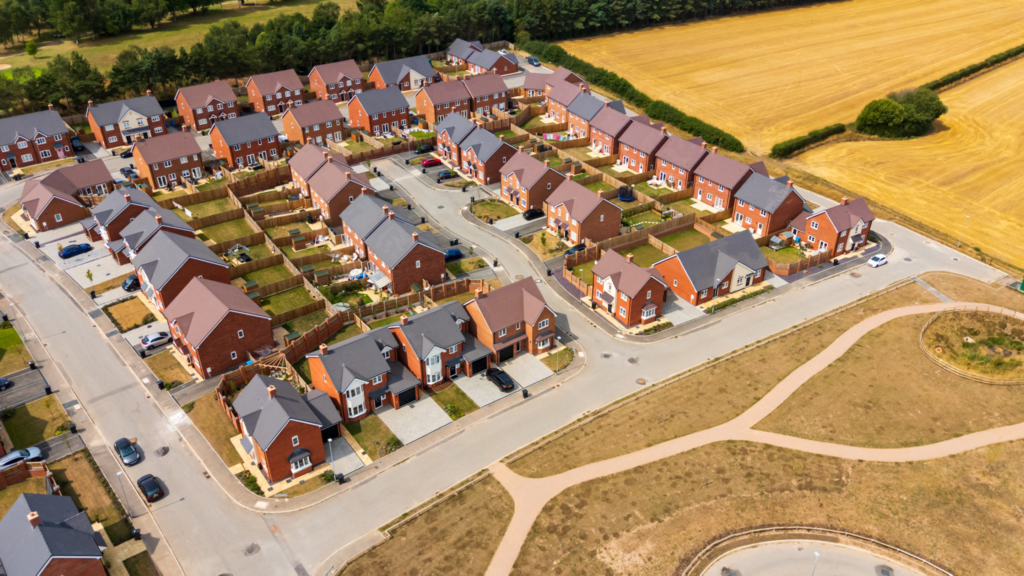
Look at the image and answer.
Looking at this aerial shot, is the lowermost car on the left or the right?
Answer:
left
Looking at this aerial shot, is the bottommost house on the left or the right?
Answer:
left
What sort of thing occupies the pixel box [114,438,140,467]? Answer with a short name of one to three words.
car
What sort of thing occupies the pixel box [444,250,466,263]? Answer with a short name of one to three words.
vehicle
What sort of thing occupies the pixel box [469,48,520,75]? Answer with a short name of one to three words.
house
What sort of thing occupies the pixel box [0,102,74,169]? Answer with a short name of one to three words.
house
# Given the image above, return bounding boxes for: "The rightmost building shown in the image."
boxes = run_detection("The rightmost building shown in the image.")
[787,194,876,258]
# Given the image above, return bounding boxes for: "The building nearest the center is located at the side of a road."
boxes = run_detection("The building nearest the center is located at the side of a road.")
[463,277,558,364]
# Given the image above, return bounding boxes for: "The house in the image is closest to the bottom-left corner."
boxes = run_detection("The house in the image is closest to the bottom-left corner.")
[0,493,108,576]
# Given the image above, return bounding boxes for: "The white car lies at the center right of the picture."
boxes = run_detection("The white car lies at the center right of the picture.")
[865,254,890,269]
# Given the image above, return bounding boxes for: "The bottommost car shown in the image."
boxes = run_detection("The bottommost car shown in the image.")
[137,474,165,506]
